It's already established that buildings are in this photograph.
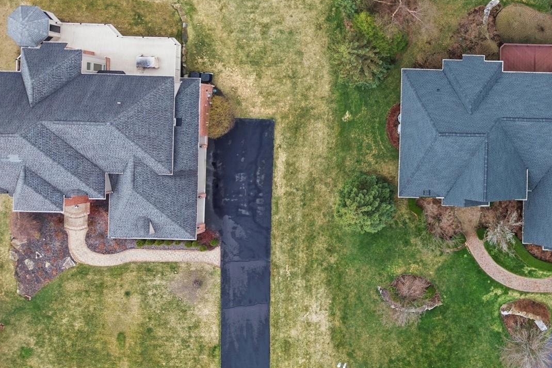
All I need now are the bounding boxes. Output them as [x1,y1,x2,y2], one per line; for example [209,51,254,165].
[397,55,552,256]
[0,41,219,240]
